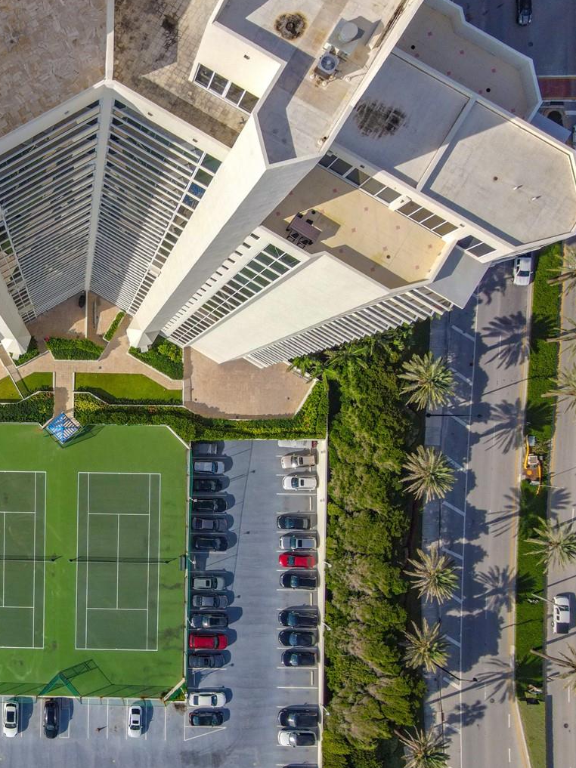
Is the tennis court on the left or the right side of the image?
left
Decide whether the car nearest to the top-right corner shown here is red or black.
black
